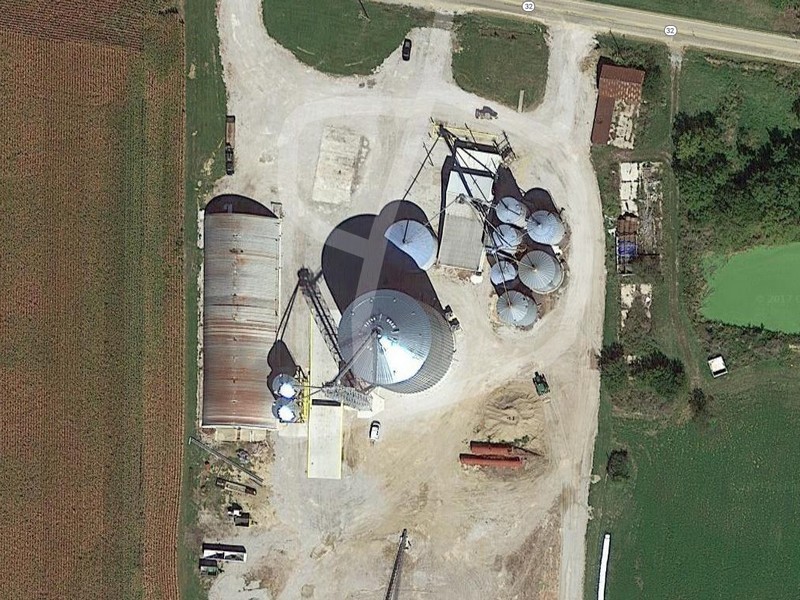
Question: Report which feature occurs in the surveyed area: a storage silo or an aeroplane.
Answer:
storage silo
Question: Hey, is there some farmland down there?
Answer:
Yes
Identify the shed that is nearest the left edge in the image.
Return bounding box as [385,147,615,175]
[204,214,280,430]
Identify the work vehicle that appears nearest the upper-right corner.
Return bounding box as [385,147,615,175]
[474,109,498,122]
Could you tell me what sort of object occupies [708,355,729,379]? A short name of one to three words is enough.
shed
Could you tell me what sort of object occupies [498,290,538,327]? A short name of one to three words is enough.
silo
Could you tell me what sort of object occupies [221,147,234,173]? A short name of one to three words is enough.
vehicle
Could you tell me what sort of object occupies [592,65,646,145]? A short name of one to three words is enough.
shed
